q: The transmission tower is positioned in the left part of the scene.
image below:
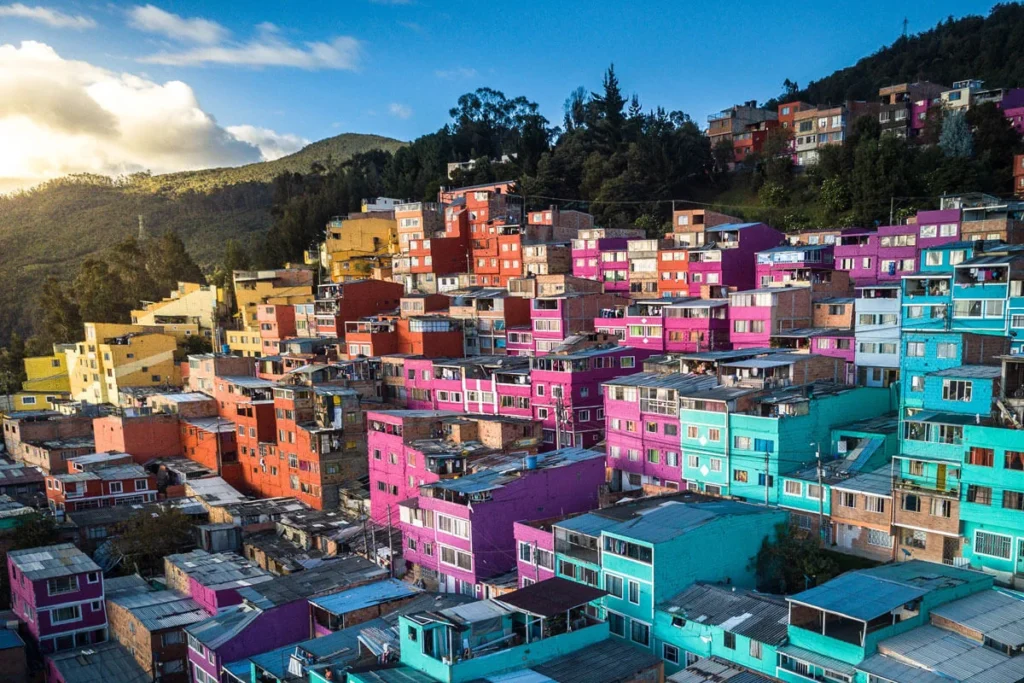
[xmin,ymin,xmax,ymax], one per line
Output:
[135,214,148,245]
